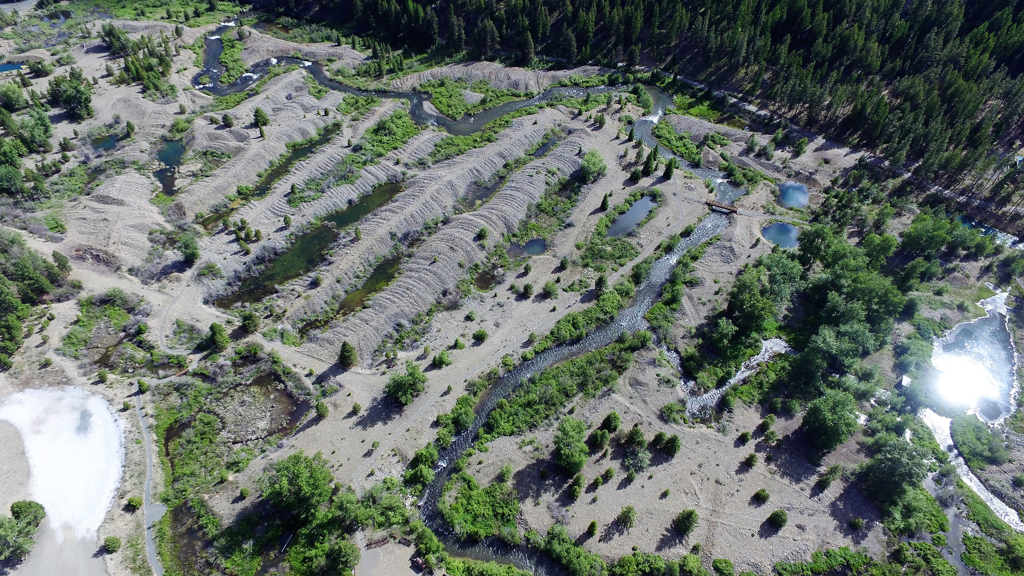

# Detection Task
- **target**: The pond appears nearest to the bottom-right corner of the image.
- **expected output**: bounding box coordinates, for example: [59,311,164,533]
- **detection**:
[928,296,1020,429]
